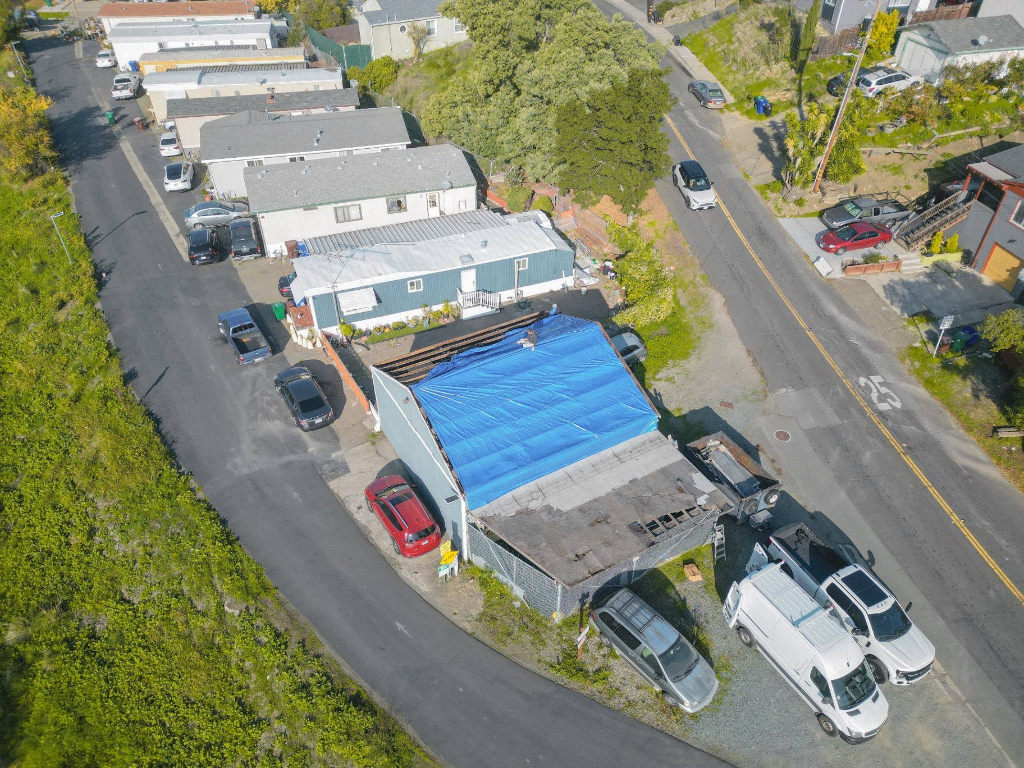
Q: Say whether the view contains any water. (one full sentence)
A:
No, there is no water in the image.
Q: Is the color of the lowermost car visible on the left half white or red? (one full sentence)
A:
The lowermost car visible on the left half looks red in the image.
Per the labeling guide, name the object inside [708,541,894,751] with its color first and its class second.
white van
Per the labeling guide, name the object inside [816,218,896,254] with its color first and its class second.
red car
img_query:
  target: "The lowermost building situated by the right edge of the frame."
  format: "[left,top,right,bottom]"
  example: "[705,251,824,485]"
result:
[895,135,1024,302]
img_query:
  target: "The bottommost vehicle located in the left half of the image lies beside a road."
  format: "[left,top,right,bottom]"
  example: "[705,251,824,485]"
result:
[362,471,444,566]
